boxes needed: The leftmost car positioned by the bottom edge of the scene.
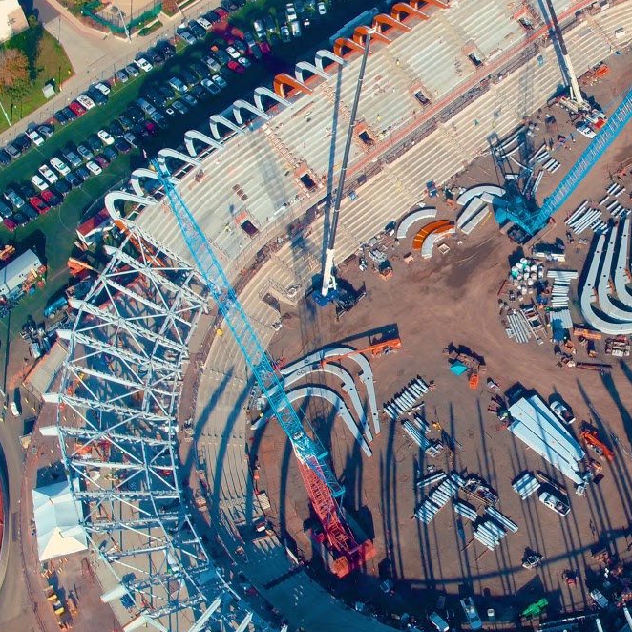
[426,608,452,632]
